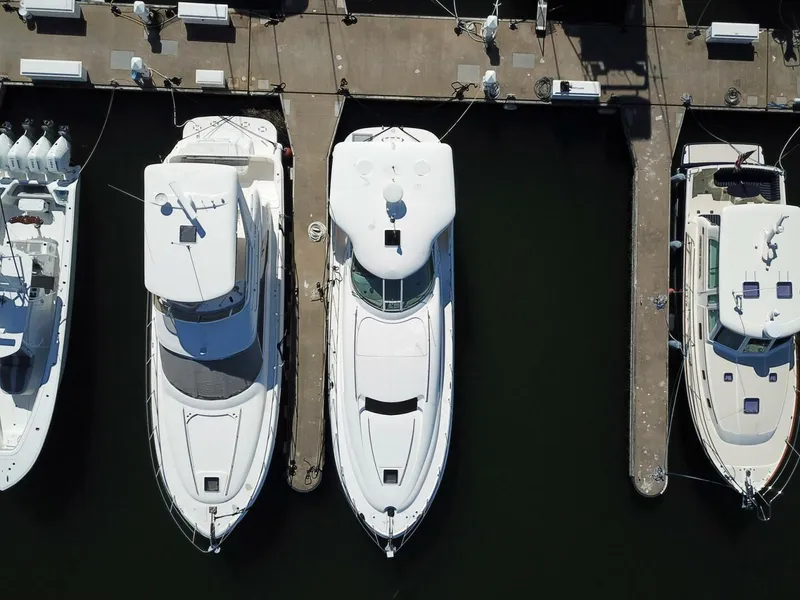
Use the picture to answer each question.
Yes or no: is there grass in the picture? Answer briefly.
No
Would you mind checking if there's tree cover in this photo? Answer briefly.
No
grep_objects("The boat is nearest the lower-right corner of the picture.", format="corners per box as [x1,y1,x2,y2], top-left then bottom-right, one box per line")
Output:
[676,143,800,530]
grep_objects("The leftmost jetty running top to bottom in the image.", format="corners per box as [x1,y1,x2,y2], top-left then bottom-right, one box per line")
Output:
[279,91,348,492]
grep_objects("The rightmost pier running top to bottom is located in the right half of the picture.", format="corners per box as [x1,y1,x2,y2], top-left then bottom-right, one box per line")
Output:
[616,102,688,495]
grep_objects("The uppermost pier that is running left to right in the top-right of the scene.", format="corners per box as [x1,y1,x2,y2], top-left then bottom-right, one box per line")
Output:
[617,0,690,27]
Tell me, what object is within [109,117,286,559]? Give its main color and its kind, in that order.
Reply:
white boat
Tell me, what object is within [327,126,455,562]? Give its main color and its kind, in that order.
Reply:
white boat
